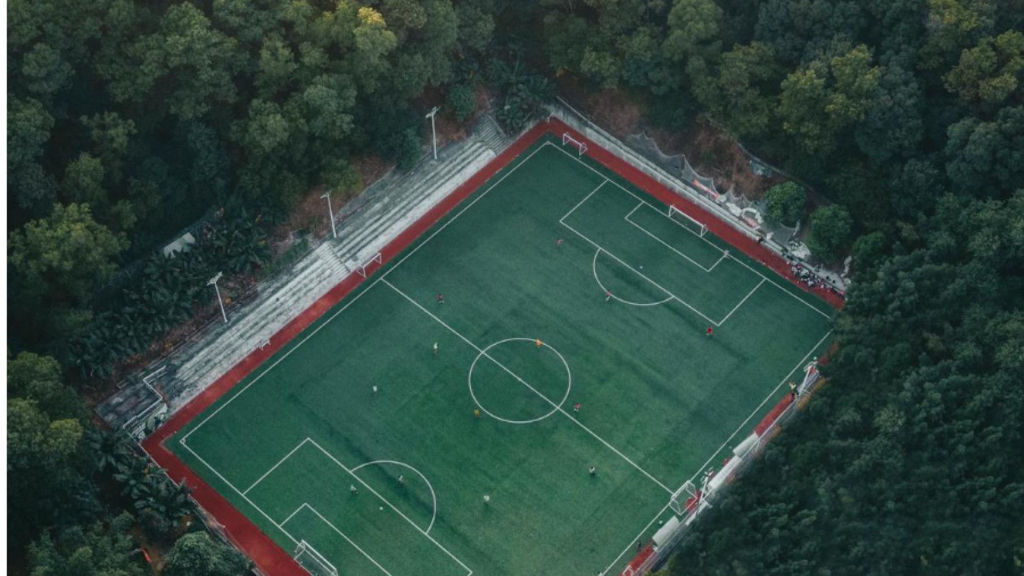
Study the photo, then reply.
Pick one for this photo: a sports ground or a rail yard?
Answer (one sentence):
It's a sports ground.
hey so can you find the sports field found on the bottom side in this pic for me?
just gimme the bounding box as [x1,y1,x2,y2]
[163,131,839,576]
